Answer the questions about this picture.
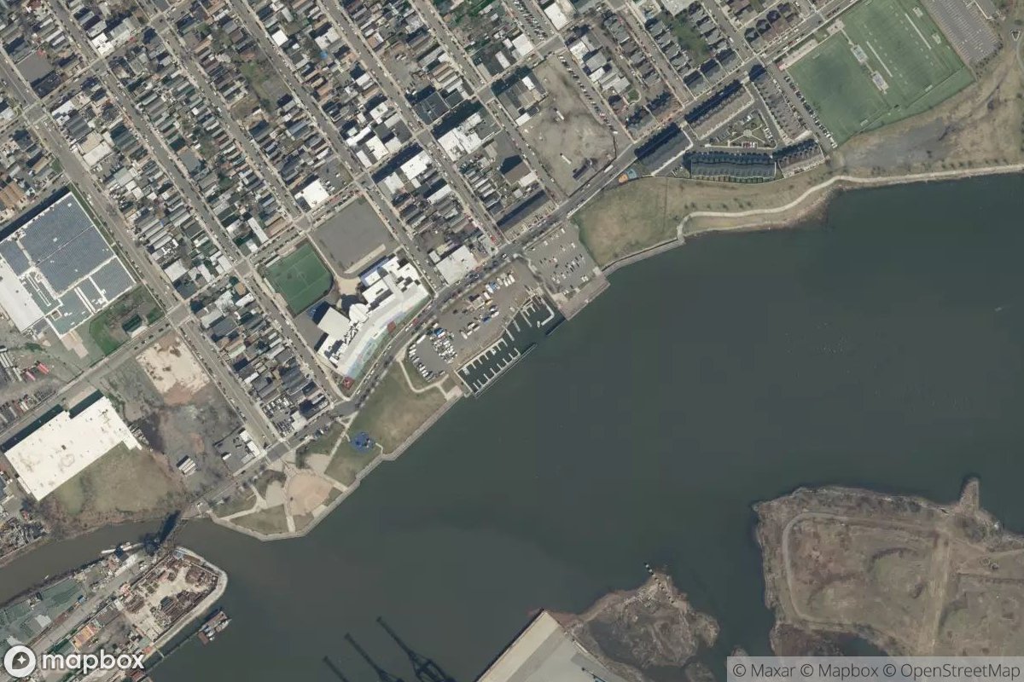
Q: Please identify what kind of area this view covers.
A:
residential area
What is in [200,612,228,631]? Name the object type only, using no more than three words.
ship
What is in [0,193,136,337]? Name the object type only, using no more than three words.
warehouse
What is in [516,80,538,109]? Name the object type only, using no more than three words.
building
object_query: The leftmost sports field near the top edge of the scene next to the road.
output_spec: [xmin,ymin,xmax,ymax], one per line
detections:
[787,22,893,142]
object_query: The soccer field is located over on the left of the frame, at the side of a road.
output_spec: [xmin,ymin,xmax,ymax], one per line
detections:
[262,240,333,316]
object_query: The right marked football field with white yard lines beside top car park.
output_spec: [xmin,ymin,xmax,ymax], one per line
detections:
[854,0,974,121]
